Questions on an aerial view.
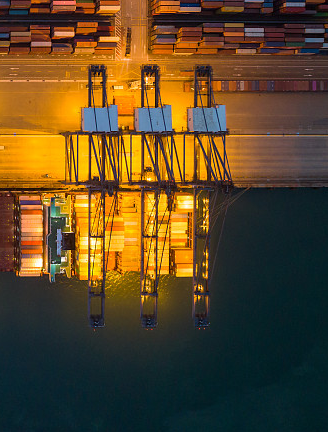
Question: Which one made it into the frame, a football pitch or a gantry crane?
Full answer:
Of the two, only a gantry crane appears.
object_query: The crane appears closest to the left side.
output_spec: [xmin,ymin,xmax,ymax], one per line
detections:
[54,66,124,330]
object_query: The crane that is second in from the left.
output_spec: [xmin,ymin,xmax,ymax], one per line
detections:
[105,66,179,330]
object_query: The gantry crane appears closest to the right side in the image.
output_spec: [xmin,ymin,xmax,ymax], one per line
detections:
[158,66,237,330]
